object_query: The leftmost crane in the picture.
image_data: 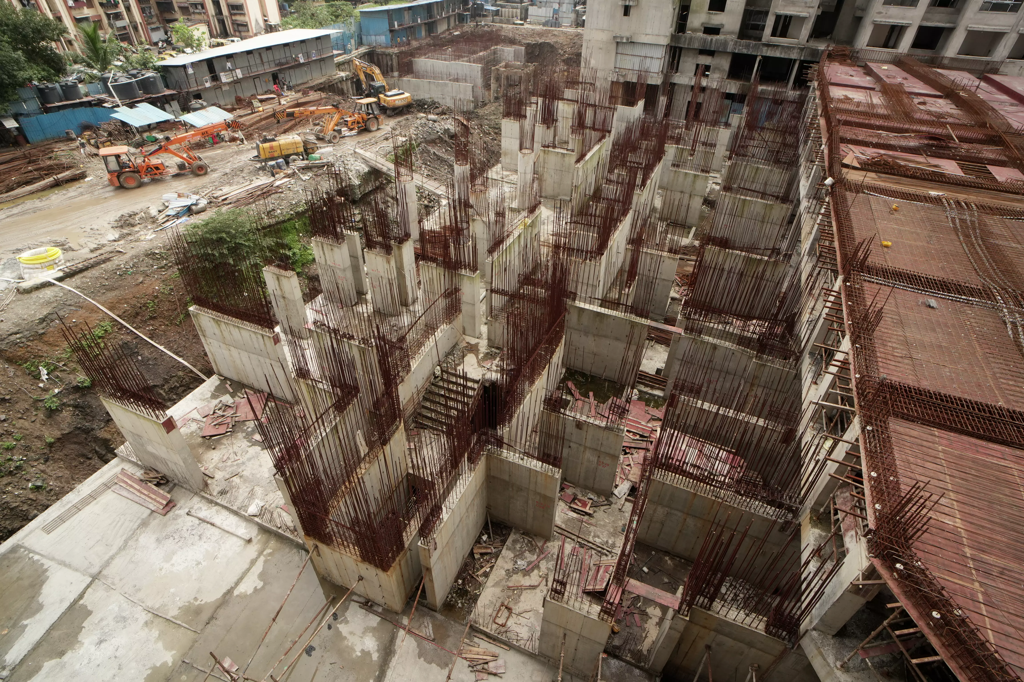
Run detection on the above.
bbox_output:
[95,120,243,189]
